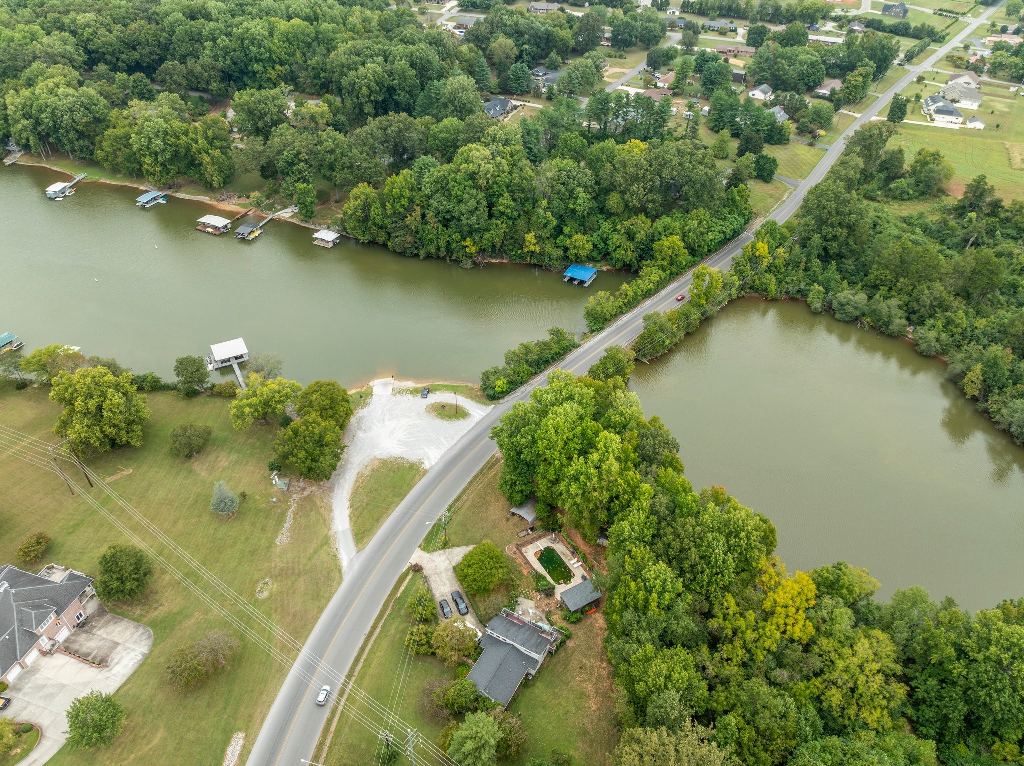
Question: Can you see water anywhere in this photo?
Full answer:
Yes, some water is visible.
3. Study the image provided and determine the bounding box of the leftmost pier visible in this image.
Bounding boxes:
[0,333,36,360]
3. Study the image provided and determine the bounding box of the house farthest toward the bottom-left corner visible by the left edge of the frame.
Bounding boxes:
[0,557,103,698]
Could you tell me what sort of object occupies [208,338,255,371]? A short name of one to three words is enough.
pier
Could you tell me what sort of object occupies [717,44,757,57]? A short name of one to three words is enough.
house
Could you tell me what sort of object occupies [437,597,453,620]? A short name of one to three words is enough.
car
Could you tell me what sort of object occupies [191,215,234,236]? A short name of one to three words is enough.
pier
